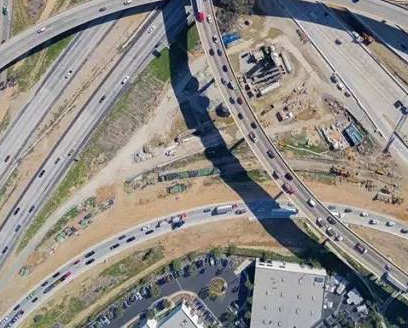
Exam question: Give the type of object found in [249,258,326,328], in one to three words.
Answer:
building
